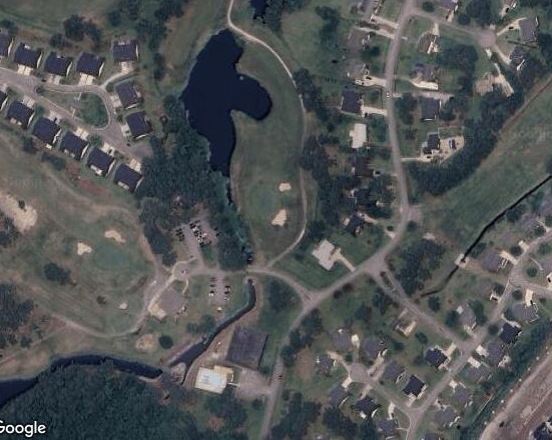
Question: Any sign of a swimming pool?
Yes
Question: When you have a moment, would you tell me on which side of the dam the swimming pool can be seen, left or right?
to its right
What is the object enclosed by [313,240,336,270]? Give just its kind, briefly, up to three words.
house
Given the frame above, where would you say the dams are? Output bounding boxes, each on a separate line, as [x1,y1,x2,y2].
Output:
[146,362,189,386]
